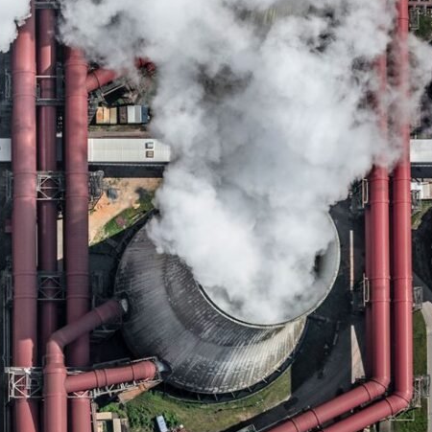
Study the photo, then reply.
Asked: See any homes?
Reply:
Yes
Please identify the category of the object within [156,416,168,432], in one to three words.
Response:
vehicle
